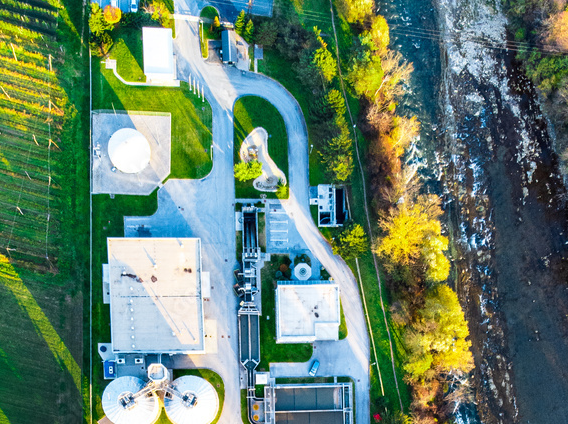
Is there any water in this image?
Yes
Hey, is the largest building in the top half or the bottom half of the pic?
bottom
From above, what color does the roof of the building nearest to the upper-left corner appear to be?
white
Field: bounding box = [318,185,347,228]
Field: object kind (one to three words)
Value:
building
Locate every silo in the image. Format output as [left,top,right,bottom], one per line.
[103,375,165,424]
[163,373,221,424]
